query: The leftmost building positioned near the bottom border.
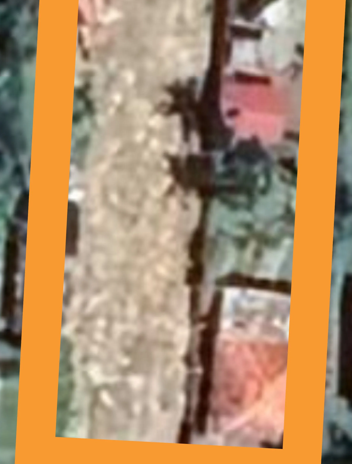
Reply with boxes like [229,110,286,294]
[216,336,323,445]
